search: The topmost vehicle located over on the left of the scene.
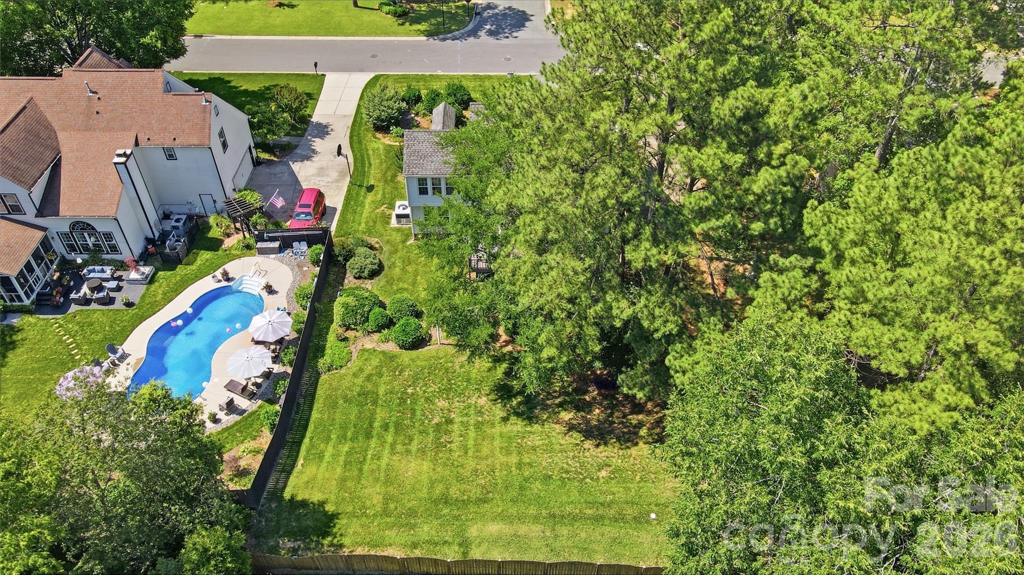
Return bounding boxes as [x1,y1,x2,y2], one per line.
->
[291,192,329,228]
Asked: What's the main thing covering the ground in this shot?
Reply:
trees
